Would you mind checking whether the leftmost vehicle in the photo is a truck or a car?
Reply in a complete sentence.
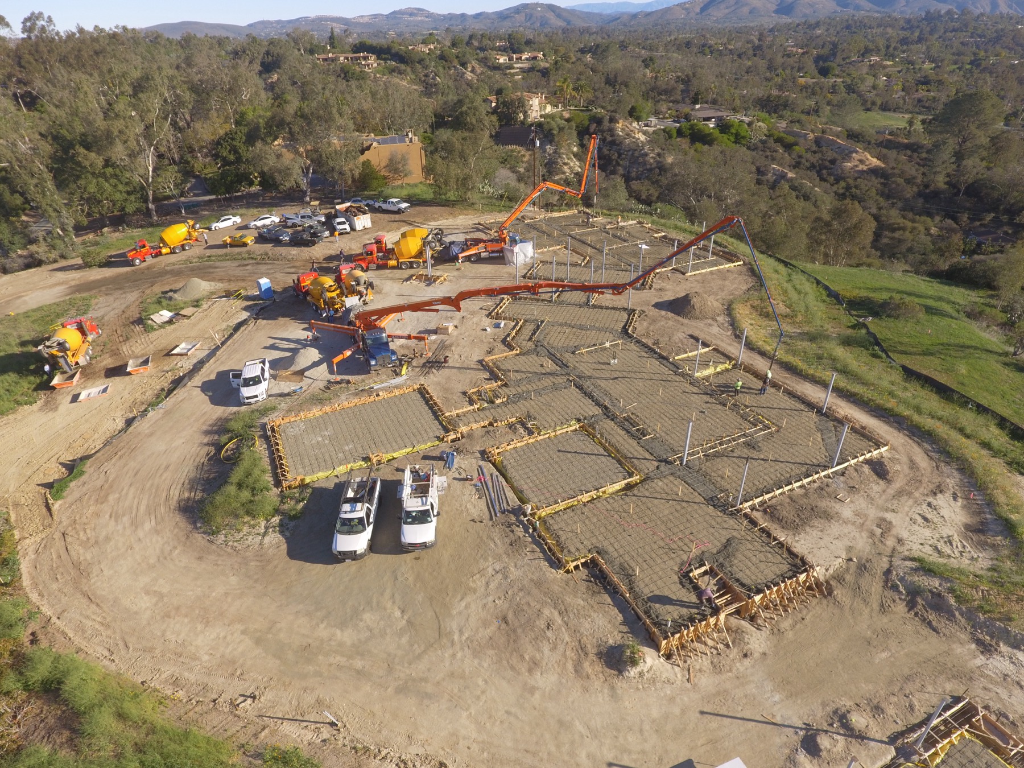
It looks like the leftmost vehicle is a truck.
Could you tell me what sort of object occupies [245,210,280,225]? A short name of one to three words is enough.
car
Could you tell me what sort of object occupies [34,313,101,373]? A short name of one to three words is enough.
truck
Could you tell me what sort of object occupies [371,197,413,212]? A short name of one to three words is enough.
vehicle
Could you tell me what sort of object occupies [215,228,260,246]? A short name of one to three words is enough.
vehicle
